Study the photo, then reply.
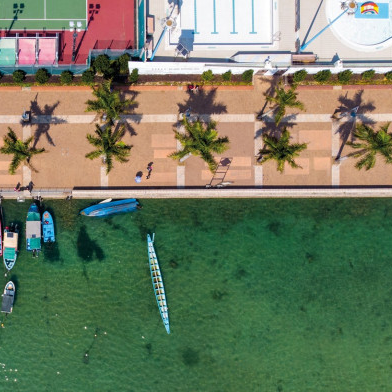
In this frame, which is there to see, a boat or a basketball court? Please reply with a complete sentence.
The one in the frame is a boat.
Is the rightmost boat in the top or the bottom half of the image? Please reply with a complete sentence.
It is in the bottom half that the rightmost boat appears.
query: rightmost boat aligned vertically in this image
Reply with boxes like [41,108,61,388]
[148,233,168,333]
